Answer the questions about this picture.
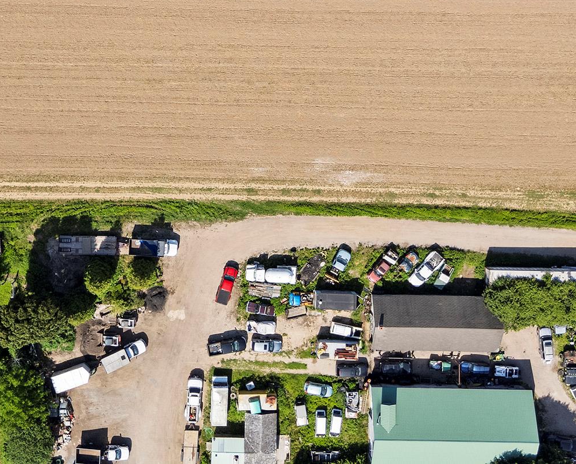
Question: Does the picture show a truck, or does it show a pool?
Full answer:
The one in the frame is a truck.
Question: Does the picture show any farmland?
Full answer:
Yes, there's farmland in this view.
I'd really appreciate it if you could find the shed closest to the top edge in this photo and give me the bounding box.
[371,293,502,352]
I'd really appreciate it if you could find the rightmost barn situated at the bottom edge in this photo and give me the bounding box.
[367,379,539,464]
